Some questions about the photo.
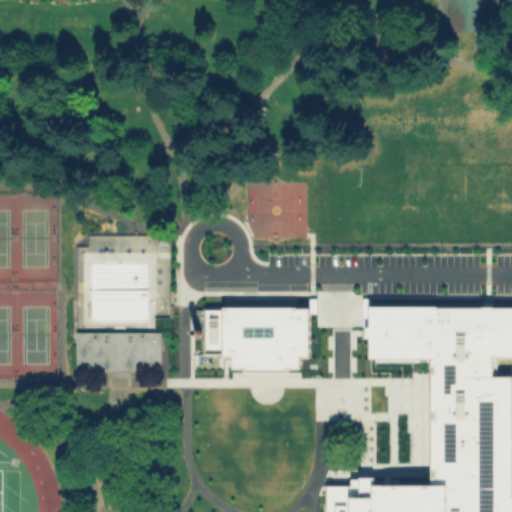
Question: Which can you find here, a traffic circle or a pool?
traffic circle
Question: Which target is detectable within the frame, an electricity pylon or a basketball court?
basketball court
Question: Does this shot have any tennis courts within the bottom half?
Yes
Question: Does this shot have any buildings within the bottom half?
Yes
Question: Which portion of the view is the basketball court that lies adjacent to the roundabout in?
center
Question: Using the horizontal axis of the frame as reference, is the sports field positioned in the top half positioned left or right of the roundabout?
to its right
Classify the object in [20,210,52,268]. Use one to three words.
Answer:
tennis court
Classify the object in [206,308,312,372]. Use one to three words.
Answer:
building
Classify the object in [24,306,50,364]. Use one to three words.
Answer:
tennis court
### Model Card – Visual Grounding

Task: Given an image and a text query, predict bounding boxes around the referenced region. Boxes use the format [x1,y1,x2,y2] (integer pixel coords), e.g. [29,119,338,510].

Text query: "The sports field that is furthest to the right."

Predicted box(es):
[316,88,512,244]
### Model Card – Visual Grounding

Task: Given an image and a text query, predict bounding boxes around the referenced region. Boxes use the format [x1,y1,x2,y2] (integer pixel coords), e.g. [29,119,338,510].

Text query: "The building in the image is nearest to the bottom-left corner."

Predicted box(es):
[77,333,163,388]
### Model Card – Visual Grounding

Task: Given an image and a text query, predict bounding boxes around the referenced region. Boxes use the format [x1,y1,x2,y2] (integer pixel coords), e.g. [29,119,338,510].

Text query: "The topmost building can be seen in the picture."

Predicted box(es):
[78,236,172,330]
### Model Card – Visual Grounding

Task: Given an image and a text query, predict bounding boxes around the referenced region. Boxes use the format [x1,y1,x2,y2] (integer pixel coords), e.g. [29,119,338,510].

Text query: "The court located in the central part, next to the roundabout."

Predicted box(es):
[247,180,308,242]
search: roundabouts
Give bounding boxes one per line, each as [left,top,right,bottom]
[184,217,270,291]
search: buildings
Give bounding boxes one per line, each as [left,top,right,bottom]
[77,333,163,388]
[206,308,312,372]
[320,306,512,512]
[78,236,172,330]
